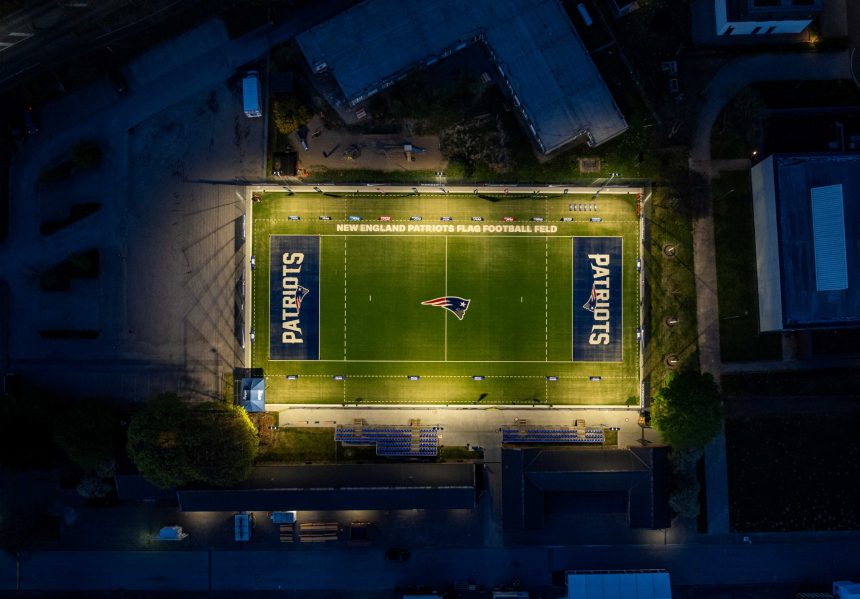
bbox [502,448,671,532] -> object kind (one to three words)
building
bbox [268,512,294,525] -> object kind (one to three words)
vehicle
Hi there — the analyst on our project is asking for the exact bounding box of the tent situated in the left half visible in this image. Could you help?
[242,376,269,412]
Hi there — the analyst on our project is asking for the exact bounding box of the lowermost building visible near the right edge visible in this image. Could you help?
[751,150,860,332]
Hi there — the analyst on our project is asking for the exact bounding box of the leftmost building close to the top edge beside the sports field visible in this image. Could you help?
[295,0,629,160]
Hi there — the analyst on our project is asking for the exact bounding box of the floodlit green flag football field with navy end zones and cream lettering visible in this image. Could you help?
[251,192,640,403]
